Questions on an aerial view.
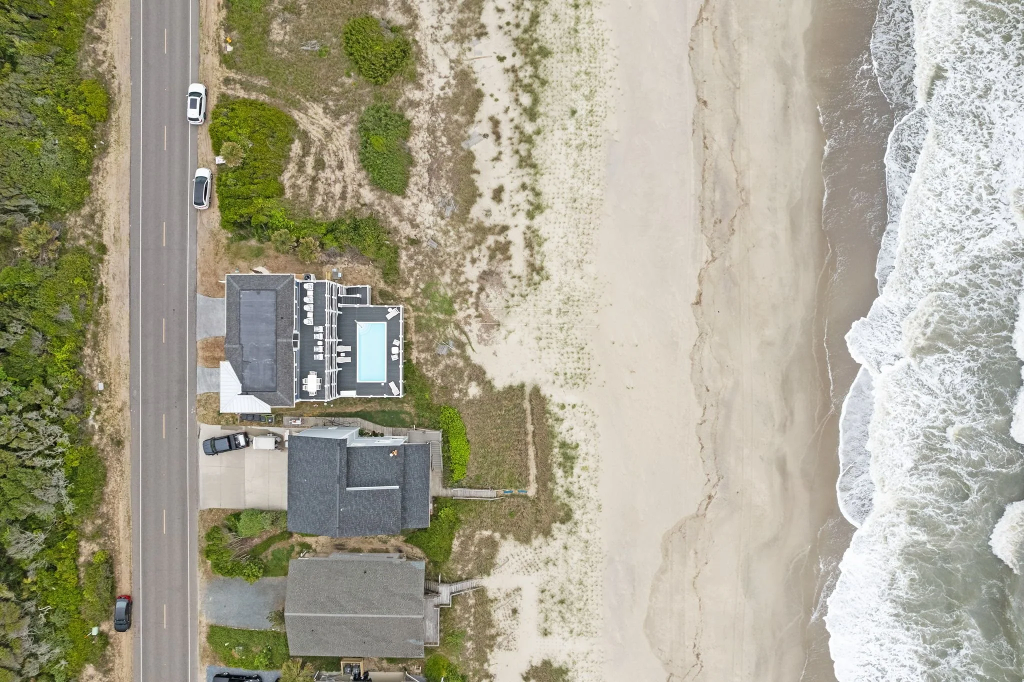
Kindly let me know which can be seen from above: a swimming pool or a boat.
swimming pool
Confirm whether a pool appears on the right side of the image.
No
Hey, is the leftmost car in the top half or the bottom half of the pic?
bottom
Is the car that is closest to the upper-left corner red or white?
white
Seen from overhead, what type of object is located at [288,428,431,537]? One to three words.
house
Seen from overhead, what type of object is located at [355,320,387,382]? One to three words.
swimming pool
